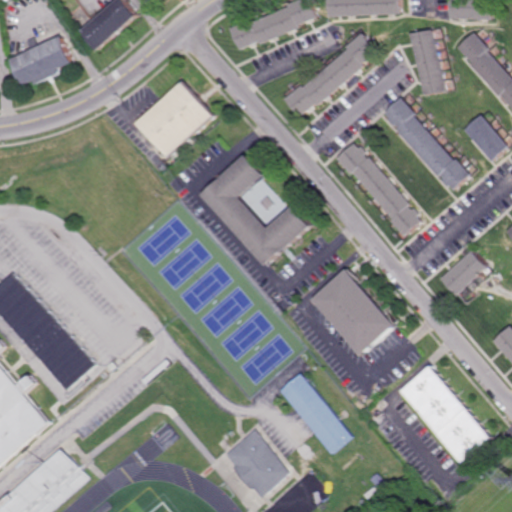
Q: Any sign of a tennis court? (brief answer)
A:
Yes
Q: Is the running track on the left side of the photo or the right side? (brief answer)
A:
left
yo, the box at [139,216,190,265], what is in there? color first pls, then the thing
blue tennis court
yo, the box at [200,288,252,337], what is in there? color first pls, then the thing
blue tennis court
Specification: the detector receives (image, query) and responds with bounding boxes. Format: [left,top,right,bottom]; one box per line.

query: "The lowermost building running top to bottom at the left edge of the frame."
[0,340,52,468]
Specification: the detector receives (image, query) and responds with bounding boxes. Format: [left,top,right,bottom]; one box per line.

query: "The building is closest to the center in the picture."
[199,156,306,263]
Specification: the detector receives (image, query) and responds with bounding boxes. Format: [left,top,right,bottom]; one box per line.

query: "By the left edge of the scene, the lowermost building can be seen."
[0,448,92,512]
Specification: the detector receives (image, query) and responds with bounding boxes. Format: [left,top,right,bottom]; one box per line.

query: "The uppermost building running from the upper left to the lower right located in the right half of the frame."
[458,33,512,115]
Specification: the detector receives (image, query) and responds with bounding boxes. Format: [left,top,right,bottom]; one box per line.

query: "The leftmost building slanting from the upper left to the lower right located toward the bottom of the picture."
[0,274,94,388]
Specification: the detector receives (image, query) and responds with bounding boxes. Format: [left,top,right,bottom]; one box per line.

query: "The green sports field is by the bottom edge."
[90,482,214,512]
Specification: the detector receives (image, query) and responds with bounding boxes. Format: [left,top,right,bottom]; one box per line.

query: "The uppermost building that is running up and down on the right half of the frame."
[409,29,446,96]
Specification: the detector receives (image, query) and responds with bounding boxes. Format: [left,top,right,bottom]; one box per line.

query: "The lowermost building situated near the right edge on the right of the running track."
[398,366,490,464]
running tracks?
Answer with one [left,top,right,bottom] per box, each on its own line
[58,424,239,512]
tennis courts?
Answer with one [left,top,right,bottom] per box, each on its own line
[221,312,273,360]
[180,264,232,313]
[160,240,212,289]
[242,335,294,384]
[200,288,252,337]
[139,216,190,265]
